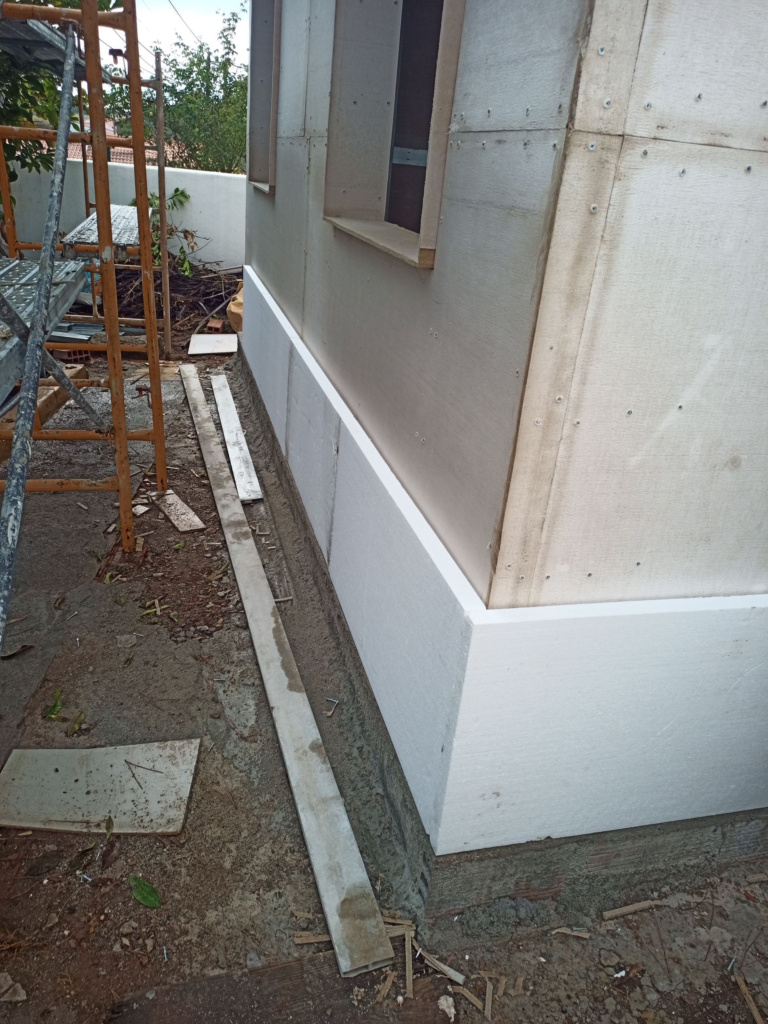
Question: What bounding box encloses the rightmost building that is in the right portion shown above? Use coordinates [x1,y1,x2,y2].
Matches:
[220,0,768,938]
